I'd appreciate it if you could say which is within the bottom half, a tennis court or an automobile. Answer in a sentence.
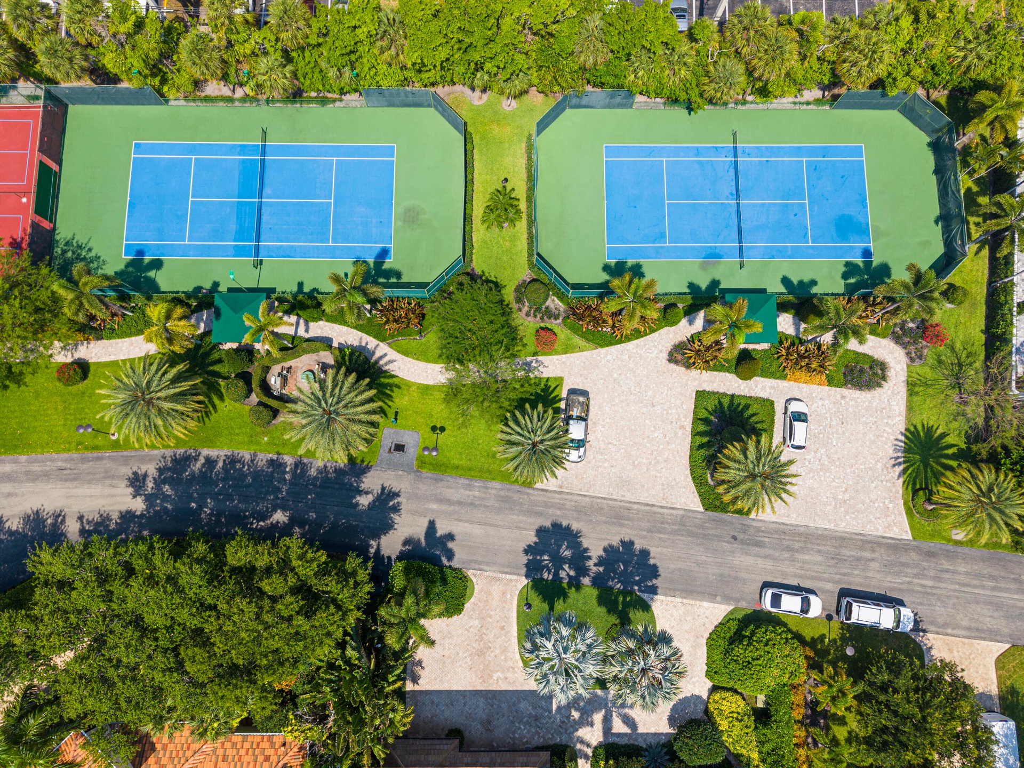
Visible within the bottom half is an automobile.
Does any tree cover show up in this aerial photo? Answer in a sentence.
Yes, tree cover can be seen from above here.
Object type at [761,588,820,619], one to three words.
car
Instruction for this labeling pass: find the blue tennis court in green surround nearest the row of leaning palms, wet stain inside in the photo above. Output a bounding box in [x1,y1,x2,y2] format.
[535,108,945,300]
